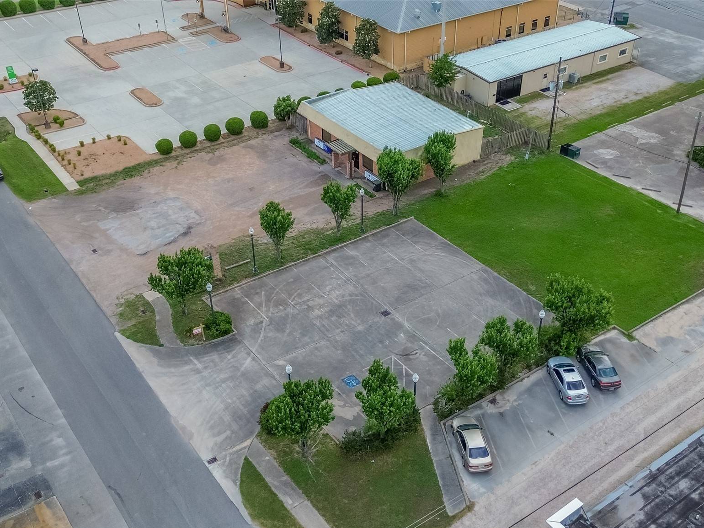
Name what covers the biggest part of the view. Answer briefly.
paved ground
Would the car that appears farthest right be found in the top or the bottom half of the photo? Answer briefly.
bottom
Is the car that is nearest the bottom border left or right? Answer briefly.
right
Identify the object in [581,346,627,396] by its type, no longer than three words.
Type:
car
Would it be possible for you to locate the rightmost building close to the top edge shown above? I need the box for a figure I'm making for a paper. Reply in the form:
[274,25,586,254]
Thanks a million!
[449,18,640,107]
